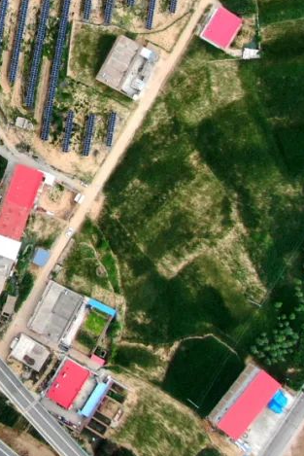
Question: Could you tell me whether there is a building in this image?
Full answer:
Yes, a building can be made out from above.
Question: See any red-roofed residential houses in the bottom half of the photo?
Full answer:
Yes, I can see a red-roofed residential house in the bottom half of the photo.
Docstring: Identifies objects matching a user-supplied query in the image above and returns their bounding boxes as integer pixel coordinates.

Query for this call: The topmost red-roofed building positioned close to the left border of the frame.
[4,164,46,206]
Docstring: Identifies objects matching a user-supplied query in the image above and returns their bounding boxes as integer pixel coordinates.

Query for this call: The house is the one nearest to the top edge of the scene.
[198,6,242,48]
